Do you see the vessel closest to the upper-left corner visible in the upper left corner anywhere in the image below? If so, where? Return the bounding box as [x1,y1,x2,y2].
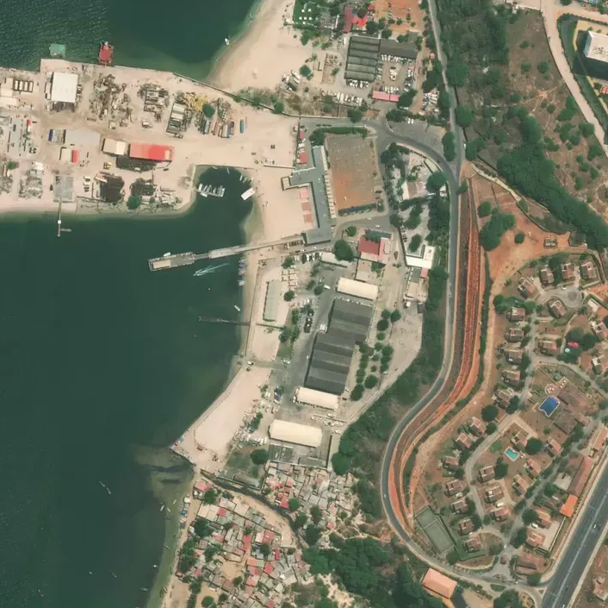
[49,43,65,59]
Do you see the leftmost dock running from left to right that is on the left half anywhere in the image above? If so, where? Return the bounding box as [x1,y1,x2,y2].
[148,251,196,271]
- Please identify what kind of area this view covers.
port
